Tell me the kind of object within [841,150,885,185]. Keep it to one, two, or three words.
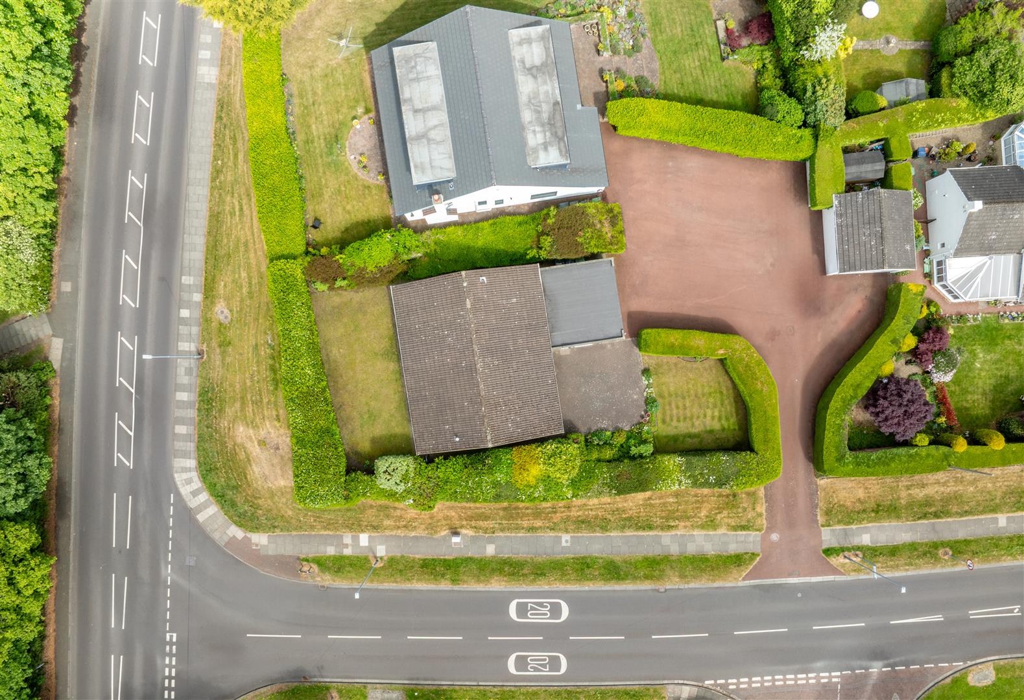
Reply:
shed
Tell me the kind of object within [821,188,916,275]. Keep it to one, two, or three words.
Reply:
building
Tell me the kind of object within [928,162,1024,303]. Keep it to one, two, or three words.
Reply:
house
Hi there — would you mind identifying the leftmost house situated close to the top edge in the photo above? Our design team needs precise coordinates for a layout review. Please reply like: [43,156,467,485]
[369,6,609,225]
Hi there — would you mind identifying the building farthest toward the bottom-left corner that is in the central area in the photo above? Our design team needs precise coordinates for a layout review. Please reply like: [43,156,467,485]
[390,264,565,455]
